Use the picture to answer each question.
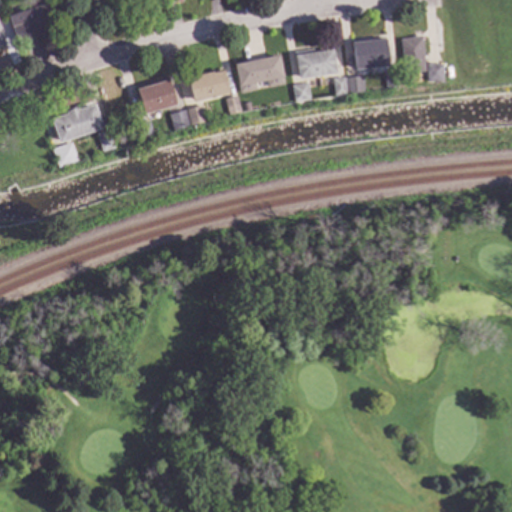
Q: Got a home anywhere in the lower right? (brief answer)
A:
No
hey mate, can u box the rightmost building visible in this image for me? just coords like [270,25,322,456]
[428,62,447,84]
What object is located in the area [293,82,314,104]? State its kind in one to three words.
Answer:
building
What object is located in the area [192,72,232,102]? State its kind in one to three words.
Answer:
house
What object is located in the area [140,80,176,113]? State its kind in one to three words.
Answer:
house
